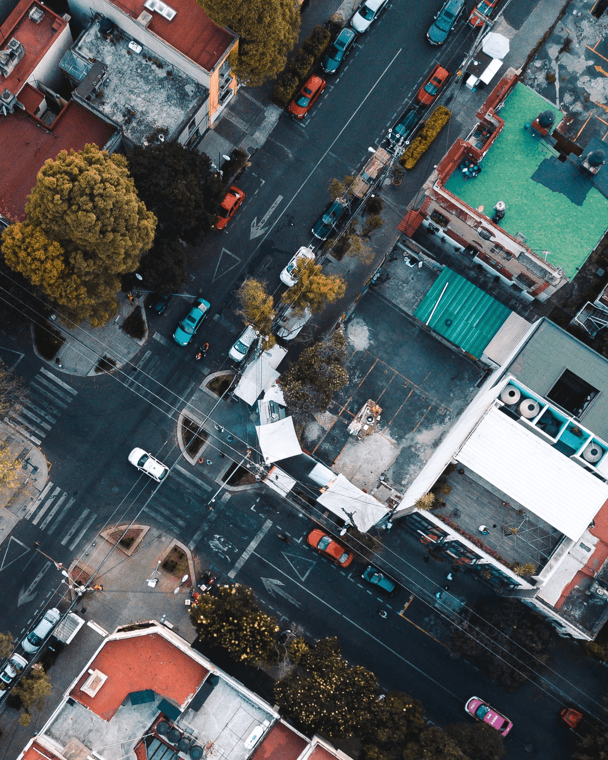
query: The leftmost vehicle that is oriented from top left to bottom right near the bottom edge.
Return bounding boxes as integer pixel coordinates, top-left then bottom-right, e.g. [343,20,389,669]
[462,695,514,741]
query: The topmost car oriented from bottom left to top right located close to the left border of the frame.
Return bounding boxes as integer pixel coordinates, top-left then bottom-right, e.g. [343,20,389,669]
[20,605,63,658]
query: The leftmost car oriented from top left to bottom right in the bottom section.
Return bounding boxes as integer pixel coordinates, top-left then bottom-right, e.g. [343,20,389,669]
[124,445,174,487]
